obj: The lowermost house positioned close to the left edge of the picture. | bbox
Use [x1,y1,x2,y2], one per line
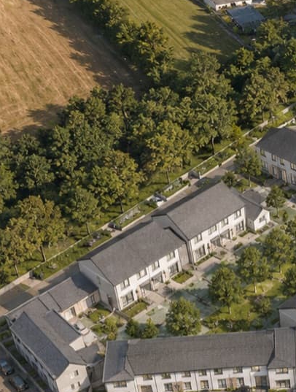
[8,309,102,392]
